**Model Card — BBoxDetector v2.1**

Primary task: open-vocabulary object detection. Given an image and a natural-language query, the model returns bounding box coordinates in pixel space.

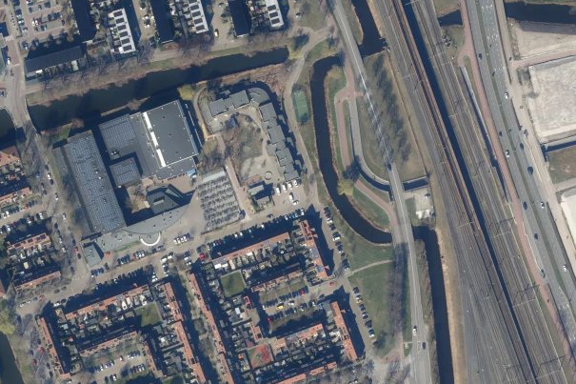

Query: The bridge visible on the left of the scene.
[7,93,40,151]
